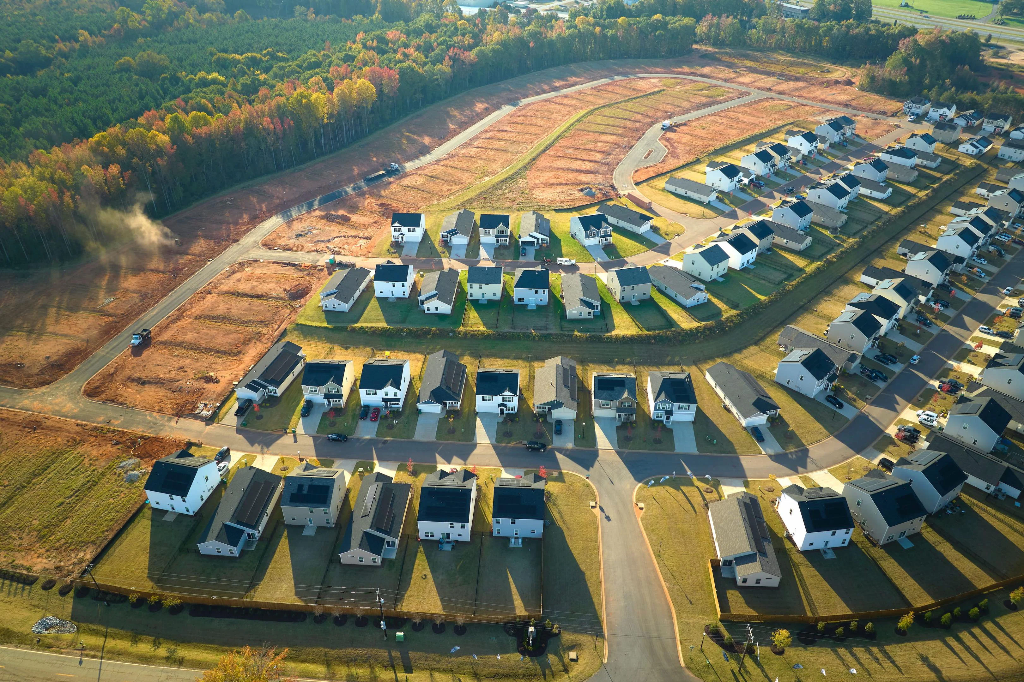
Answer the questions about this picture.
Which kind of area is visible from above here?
residential area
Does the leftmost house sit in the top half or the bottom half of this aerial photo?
bottom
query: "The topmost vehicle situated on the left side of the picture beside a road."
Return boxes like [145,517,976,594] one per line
[367,160,401,178]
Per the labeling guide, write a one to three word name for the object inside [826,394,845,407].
vehicle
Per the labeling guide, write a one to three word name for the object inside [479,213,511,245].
house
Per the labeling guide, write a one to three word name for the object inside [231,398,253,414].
vehicle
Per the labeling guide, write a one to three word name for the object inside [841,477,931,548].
house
